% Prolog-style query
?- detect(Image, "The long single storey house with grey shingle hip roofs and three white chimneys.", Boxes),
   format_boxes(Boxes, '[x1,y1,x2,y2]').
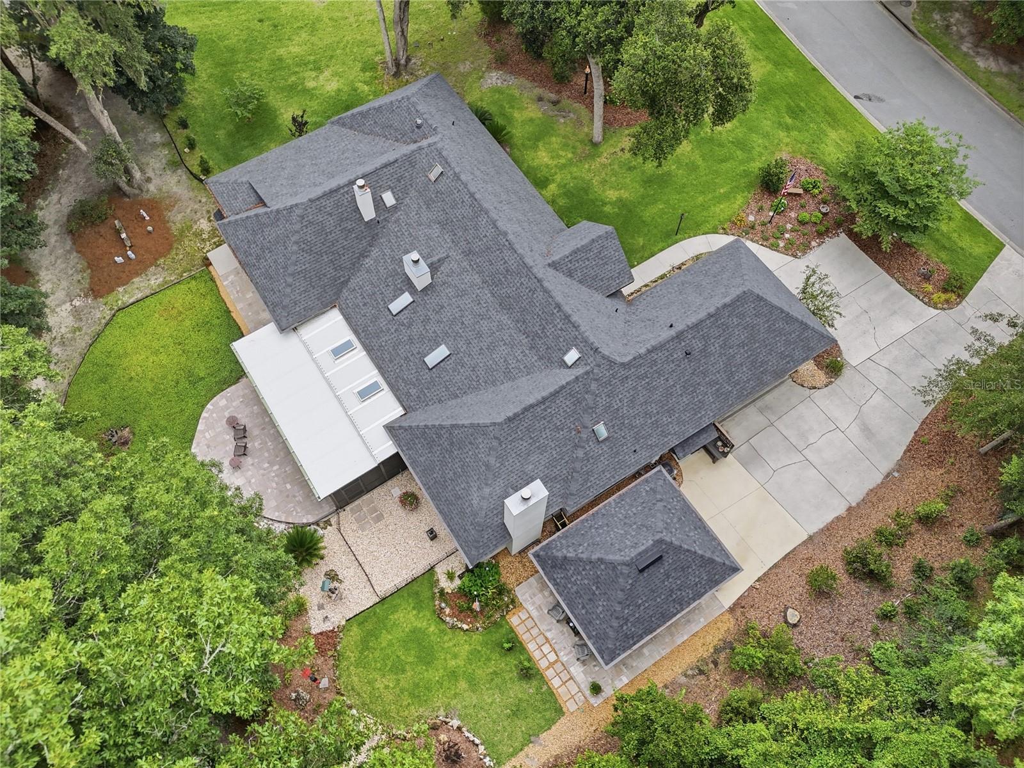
[202,72,838,570]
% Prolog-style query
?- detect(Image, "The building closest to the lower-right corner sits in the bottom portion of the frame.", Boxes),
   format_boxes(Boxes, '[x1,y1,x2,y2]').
[527,462,745,671]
